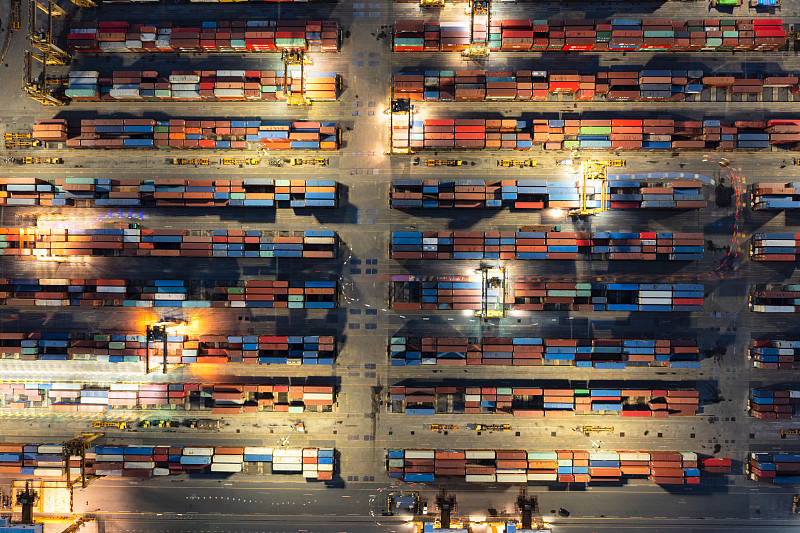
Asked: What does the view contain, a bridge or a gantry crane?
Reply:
gantry crane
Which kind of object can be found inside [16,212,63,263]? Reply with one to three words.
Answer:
container crane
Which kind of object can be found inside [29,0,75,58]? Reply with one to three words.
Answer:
container crane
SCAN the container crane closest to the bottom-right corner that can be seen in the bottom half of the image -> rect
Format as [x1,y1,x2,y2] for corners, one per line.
[484,493,551,533]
